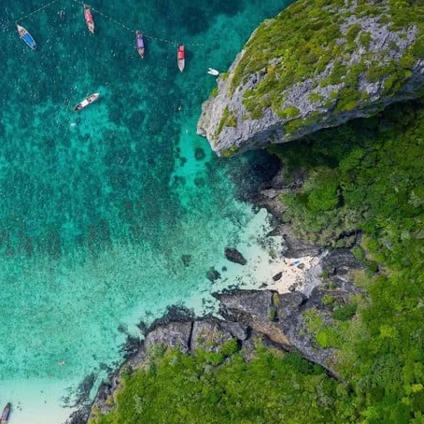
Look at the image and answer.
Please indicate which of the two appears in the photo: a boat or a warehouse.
boat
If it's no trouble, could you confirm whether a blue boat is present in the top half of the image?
Yes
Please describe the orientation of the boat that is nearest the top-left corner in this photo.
diagonally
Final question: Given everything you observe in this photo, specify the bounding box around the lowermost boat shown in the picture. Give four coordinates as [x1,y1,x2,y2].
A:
[0,394,15,424]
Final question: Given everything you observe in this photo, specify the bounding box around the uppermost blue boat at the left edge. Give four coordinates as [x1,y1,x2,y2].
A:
[16,21,37,50]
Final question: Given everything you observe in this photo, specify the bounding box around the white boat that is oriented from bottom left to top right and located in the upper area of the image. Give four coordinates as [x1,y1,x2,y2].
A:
[71,91,100,112]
